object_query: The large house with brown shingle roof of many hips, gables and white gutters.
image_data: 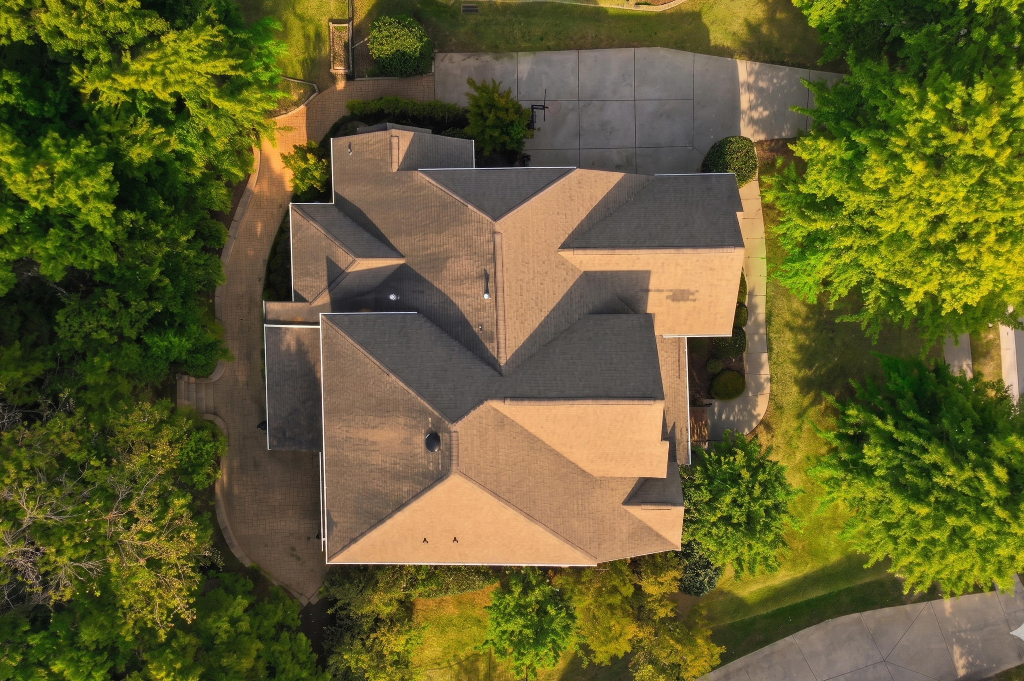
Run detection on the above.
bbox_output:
[260,124,746,568]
